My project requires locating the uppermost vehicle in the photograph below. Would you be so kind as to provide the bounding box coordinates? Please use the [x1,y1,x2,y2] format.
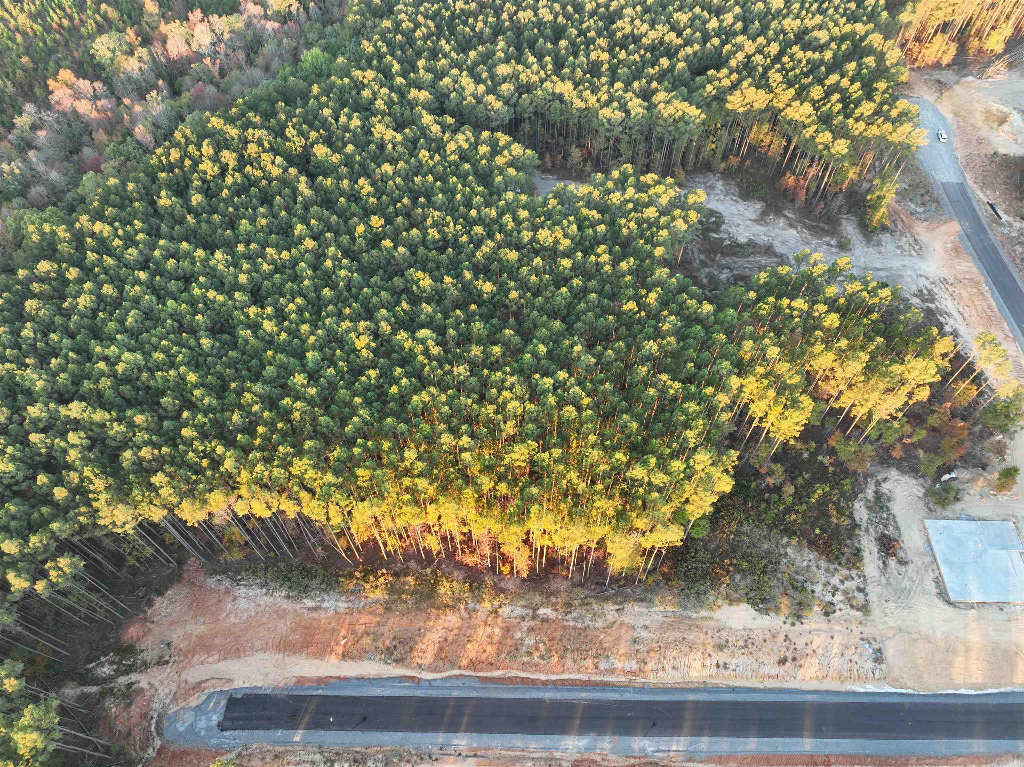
[936,130,948,143]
